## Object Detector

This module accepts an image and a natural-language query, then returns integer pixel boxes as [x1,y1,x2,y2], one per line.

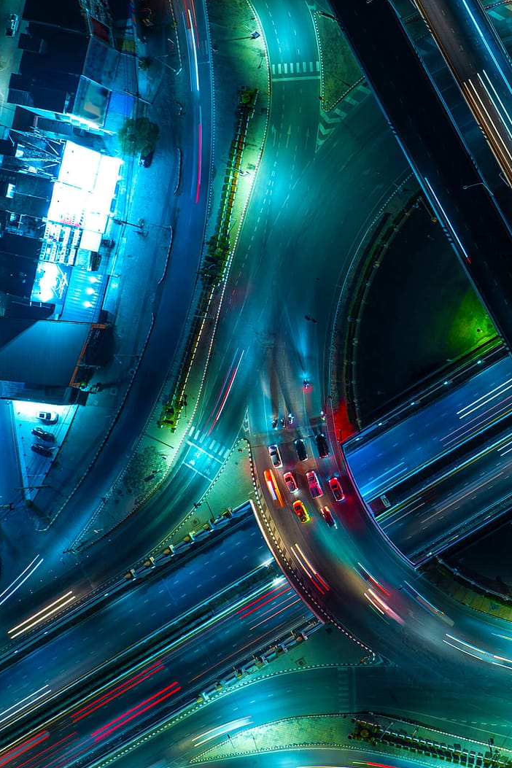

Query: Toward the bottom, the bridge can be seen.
[250,436,416,624]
